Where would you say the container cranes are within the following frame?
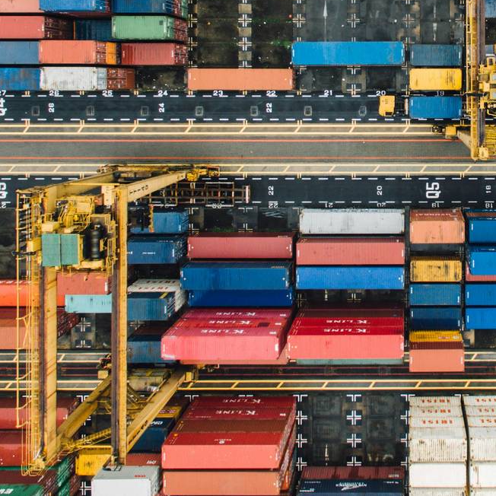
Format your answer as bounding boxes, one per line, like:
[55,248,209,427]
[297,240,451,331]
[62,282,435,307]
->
[1,157,219,477]
[428,0,496,171]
